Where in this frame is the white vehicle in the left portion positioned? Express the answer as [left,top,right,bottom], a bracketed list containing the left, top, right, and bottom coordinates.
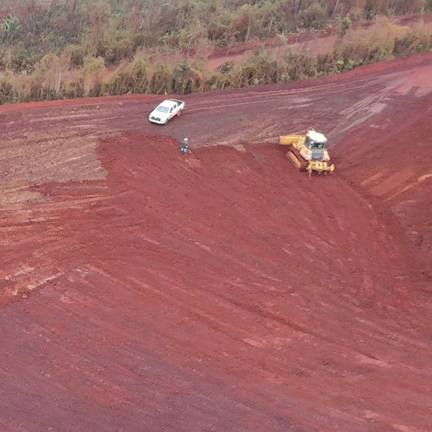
[150,99,188,123]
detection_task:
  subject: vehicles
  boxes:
[279,128,330,172]
[150,99,188,123]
